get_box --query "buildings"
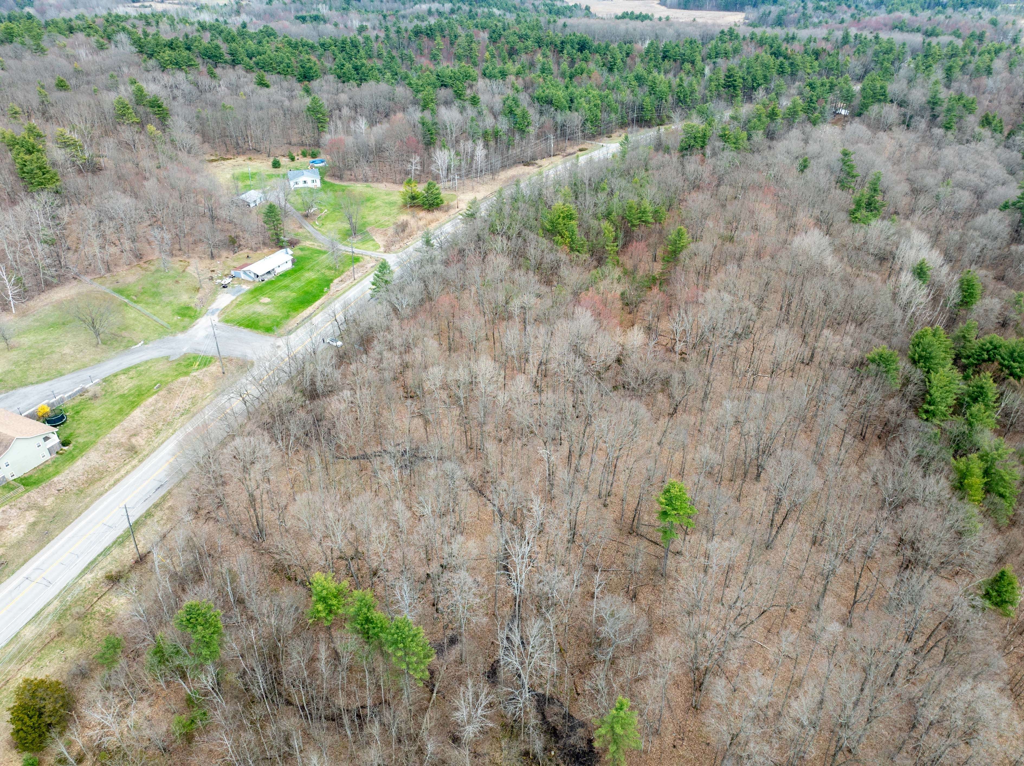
[0,408,65,481]
[229,191,267,208]
[232,252,297,282]
[285,170,322,187]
